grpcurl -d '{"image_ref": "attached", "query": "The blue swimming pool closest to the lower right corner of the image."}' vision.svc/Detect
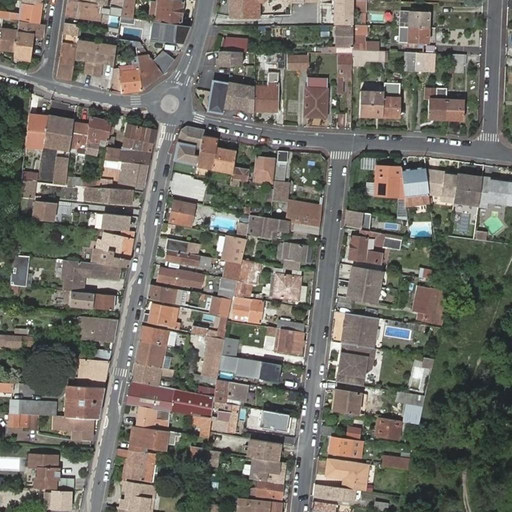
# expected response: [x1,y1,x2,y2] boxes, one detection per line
[383,326,412,340]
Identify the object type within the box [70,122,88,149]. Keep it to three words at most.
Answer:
house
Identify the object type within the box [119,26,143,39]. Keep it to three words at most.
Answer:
swimming pool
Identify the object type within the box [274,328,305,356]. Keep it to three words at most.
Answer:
shed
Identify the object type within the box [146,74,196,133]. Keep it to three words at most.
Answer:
roundabout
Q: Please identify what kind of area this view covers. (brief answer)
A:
residential area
